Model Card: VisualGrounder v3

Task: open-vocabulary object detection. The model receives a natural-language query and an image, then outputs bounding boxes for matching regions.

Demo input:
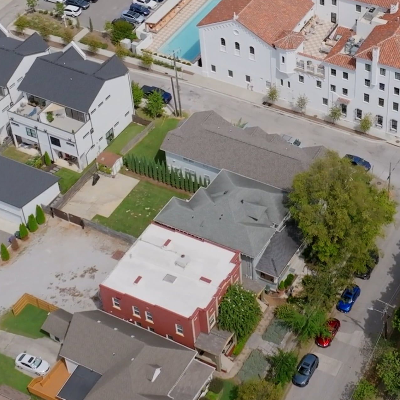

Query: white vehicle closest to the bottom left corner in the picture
[11,353,50,378]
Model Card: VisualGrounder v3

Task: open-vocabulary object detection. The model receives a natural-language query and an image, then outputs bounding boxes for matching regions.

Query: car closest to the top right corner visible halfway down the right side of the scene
[342,154,374,173]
